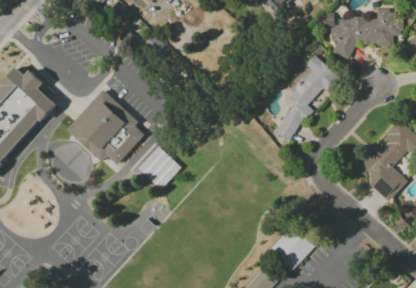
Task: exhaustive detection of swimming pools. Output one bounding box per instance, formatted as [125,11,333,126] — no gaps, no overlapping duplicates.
[349,0,372,11]
[267,90,283,116]
[406,180,416,198]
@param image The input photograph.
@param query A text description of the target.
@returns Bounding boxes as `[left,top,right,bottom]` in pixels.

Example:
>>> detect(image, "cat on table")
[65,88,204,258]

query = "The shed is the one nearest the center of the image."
[139,148,180,186]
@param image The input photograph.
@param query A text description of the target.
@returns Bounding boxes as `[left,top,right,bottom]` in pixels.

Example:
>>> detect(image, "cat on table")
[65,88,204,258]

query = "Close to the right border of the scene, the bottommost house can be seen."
[364,123,416,202]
